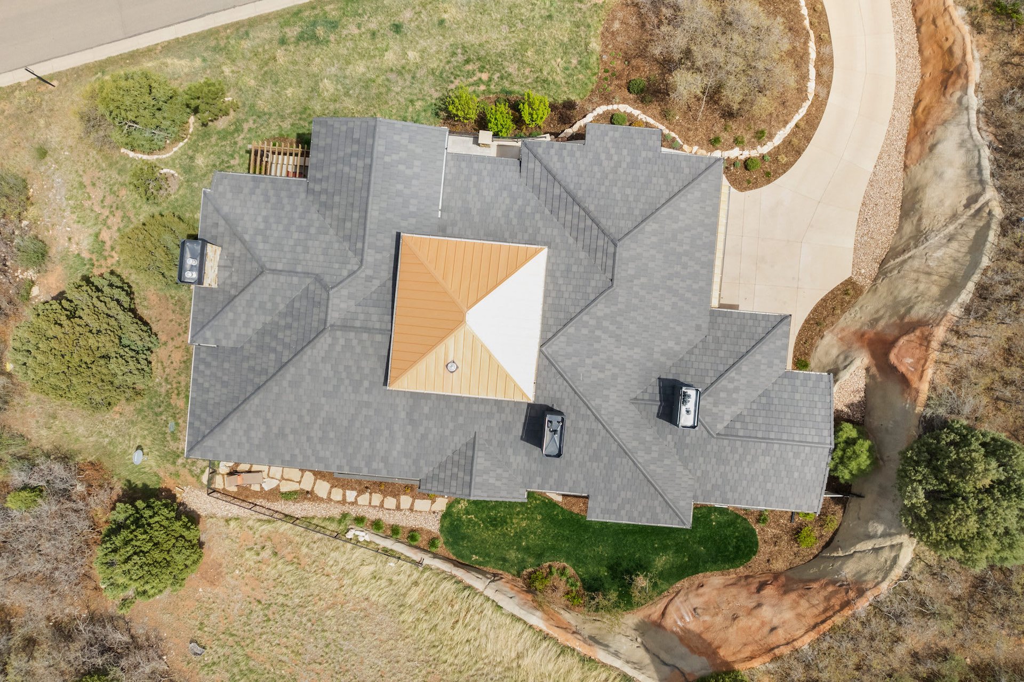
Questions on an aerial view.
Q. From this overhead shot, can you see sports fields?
No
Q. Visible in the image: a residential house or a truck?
residential house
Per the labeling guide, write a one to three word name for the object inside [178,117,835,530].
house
